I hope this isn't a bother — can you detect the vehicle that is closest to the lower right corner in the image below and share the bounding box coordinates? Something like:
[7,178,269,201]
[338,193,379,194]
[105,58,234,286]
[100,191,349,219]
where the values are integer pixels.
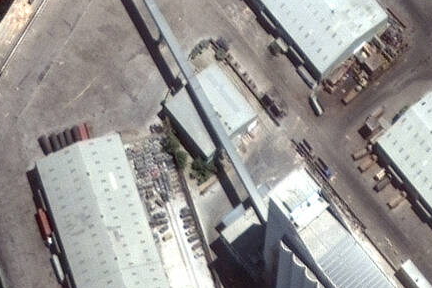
[386,190,408,209]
